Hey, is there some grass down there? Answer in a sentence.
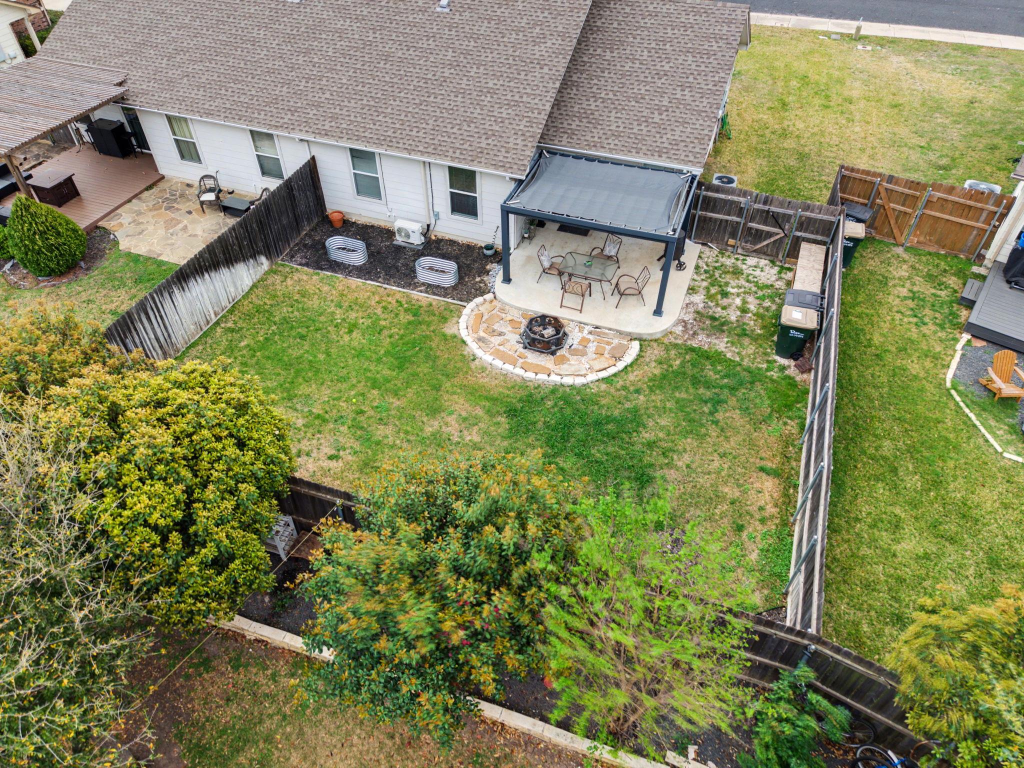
Yes, there is grass in the image.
